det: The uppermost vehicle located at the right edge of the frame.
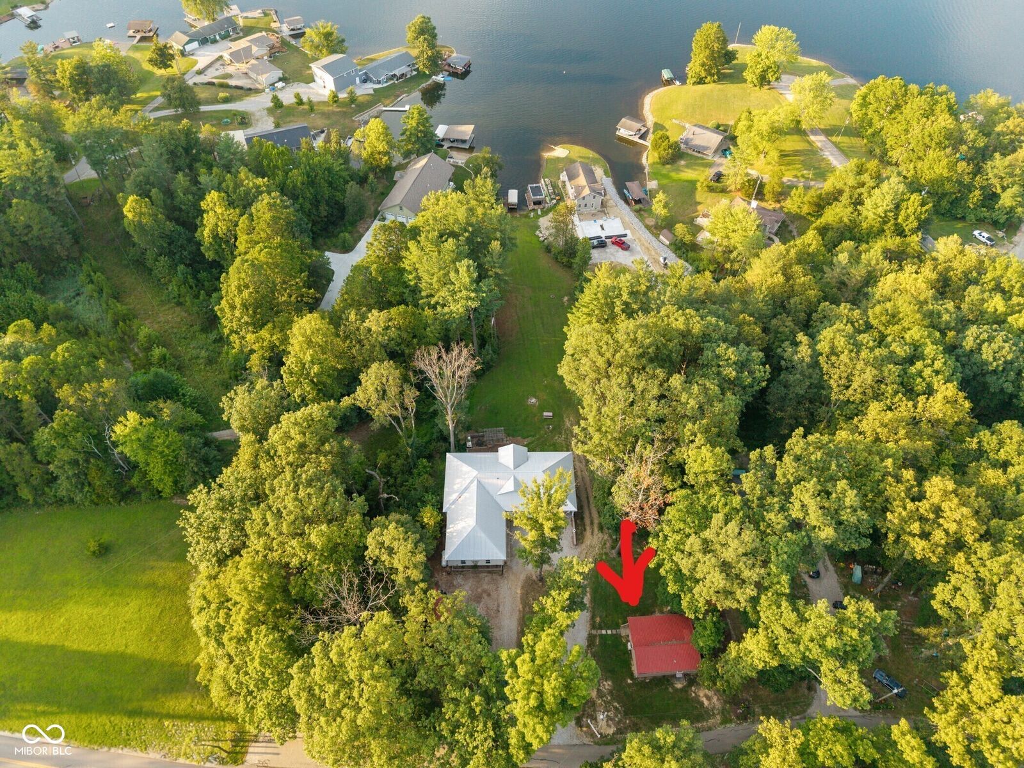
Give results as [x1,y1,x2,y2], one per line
[969,228,1001,246]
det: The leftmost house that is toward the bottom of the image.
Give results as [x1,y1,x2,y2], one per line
[442,443,579,578]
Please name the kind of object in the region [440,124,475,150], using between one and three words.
building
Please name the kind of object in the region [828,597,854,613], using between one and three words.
car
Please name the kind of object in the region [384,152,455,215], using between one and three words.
house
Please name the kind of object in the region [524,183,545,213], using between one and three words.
building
